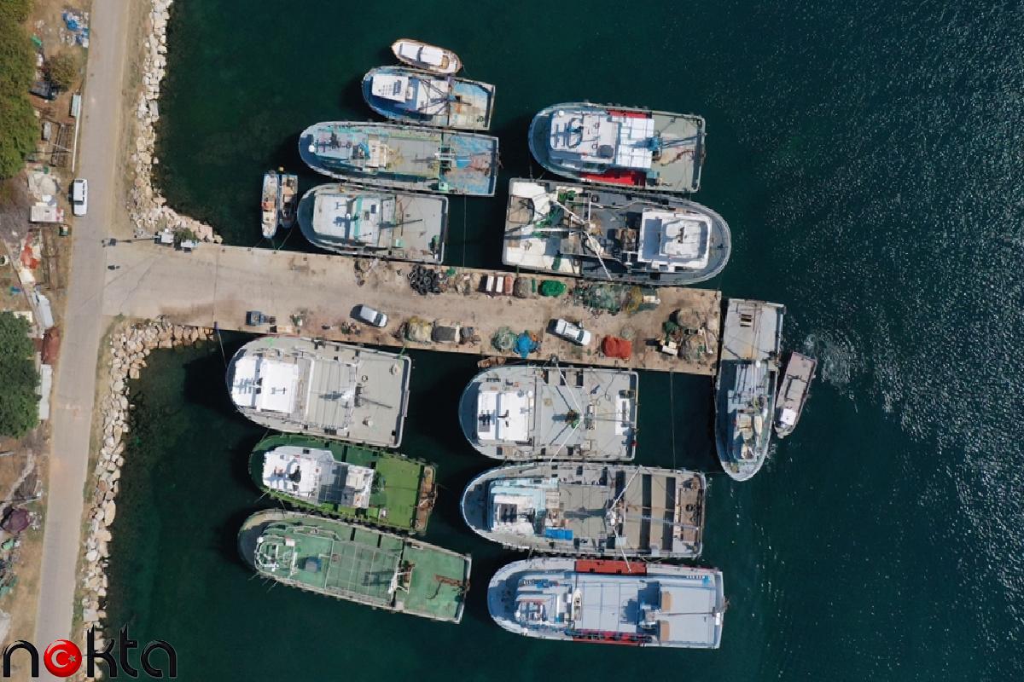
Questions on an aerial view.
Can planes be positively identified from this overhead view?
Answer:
No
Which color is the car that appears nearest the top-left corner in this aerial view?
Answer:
white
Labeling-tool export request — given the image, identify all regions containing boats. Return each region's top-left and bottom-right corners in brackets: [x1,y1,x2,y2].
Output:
[298,120,499,198]
[280,174,299,230]
[773,351,818,439]
[262,171,281,240]
[225,338,413,447]
[391,39,463,75]
[486,553,725,649]
[461,455,705,572]
[247,434,438,533]
[502,178,732,285]
[712,299,787,482]
[297,183,450,264]
[458,361,641,469]
[361,64,496,134]
[237,509,475,624]
[527,103,705,195]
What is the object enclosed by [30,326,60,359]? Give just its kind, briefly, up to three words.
shed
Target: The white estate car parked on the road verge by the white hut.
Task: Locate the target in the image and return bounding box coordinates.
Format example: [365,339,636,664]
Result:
[71,178,91,216]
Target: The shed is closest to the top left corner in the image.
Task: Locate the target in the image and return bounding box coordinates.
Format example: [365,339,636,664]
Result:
[20,203,60,222]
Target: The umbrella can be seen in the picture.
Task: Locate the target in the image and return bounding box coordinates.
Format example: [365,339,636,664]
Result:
[0,511,21,541]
